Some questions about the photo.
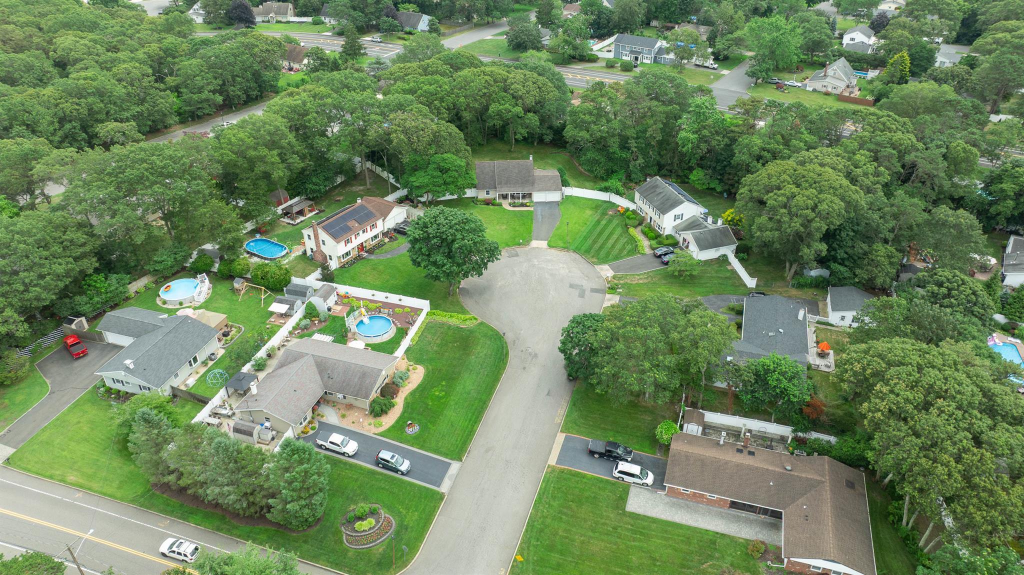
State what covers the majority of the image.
trees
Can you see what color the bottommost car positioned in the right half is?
white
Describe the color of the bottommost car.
white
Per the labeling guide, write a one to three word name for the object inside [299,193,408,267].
house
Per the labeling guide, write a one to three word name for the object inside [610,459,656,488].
car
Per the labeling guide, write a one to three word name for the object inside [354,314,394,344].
swimming pool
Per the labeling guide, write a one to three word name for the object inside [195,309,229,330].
tent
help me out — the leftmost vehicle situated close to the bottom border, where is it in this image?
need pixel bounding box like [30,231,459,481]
[155,536,204,564]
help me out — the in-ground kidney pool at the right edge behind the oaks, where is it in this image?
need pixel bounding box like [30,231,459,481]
[989,342,1024,371]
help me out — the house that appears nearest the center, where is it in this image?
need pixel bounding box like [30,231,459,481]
[475,152,563,201]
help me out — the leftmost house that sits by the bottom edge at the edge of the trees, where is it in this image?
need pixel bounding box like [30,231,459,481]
[666,434,878,575]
